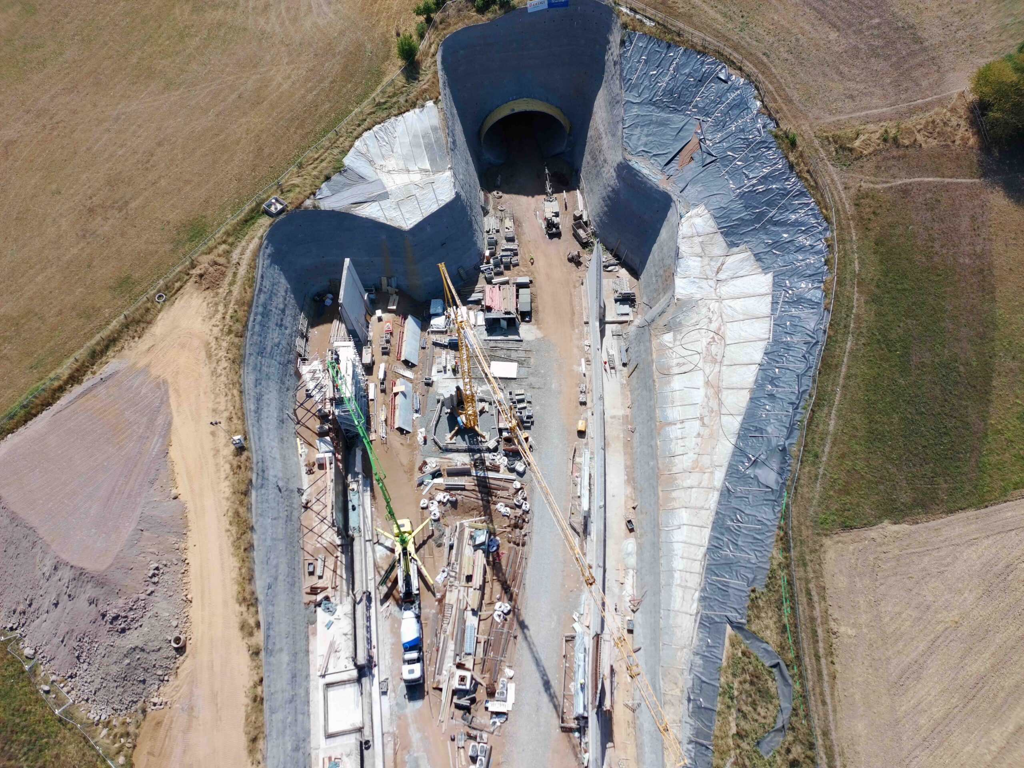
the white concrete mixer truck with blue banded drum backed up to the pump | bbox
[397,608,422,686]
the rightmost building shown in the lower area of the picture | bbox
[452,670,472,693]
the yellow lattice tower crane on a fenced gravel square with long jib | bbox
[434,262,695,765]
